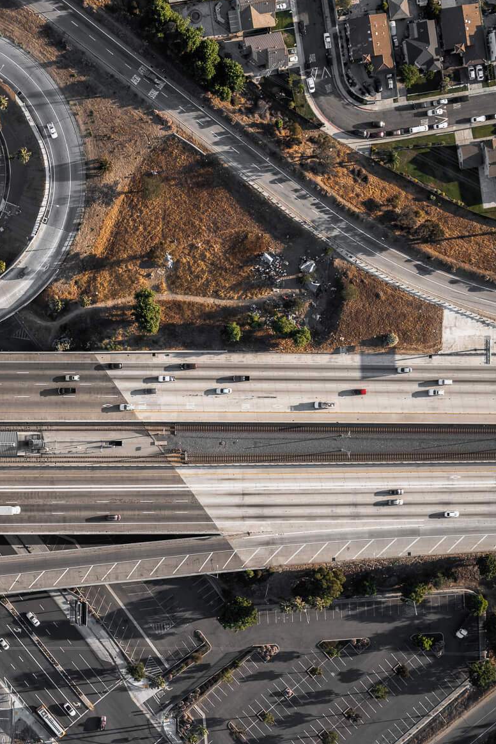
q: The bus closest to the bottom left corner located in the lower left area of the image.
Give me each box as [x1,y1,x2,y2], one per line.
[35,701,65,738]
